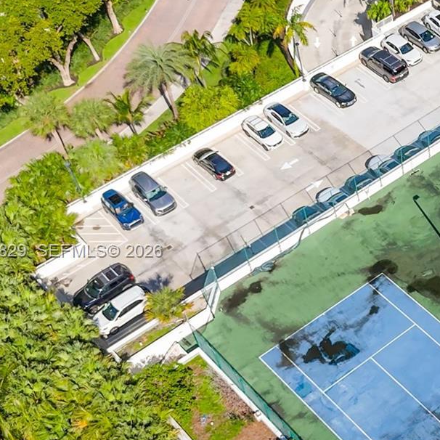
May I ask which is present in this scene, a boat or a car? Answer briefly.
car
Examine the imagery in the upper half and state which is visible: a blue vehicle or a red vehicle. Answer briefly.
blue vehicle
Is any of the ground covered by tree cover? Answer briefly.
Yes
